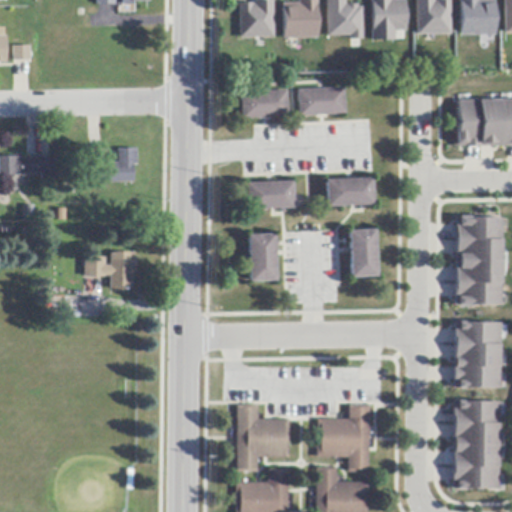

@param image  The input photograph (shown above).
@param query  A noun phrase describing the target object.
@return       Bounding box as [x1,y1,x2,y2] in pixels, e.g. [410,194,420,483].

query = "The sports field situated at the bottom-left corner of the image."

[54,454,130,512]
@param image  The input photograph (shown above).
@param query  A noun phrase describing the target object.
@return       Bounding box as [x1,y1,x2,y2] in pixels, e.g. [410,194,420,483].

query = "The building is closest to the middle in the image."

[250,234,279,282]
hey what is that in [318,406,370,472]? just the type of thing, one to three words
building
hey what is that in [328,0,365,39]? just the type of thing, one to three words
house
